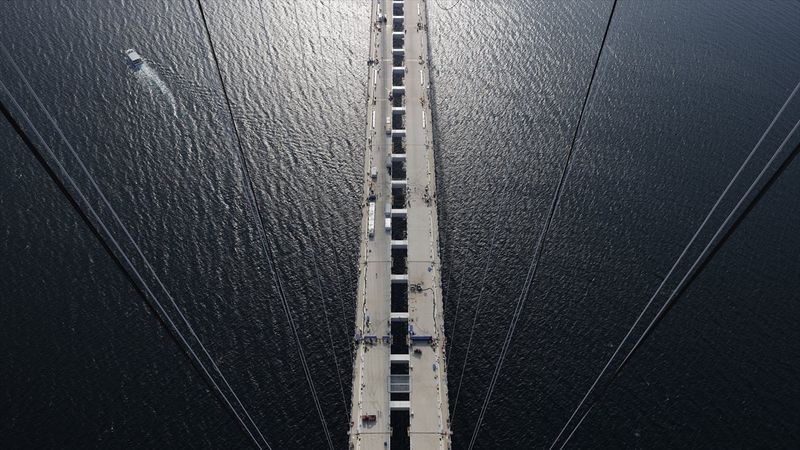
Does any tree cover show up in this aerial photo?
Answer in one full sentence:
No, there's no tree cover in this view.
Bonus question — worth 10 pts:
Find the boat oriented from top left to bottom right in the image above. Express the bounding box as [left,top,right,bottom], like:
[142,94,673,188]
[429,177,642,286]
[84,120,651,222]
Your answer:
[126,49,143,67]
